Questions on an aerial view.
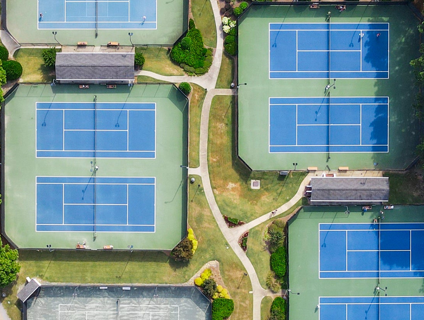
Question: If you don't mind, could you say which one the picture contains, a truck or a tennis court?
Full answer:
This aerial view contains a tennis court.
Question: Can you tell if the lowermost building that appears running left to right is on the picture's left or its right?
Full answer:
It is on the right.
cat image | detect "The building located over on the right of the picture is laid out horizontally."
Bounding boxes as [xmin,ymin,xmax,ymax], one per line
[308,171,390,203]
